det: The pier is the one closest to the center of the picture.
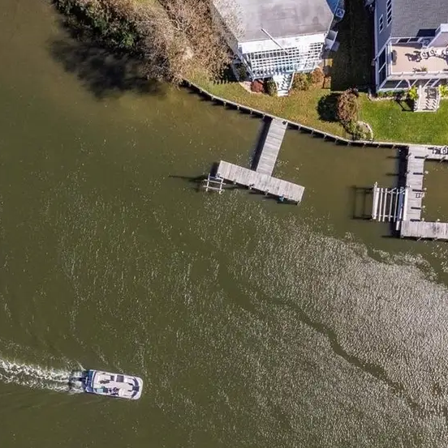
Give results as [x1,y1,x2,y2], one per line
[216,118,304,206]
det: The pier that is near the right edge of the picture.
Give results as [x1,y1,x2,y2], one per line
[398,146,448,242]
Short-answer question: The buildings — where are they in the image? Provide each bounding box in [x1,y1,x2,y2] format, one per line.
[214,0,340,104]
[375,0,448,110]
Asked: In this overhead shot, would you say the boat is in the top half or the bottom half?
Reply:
bottom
